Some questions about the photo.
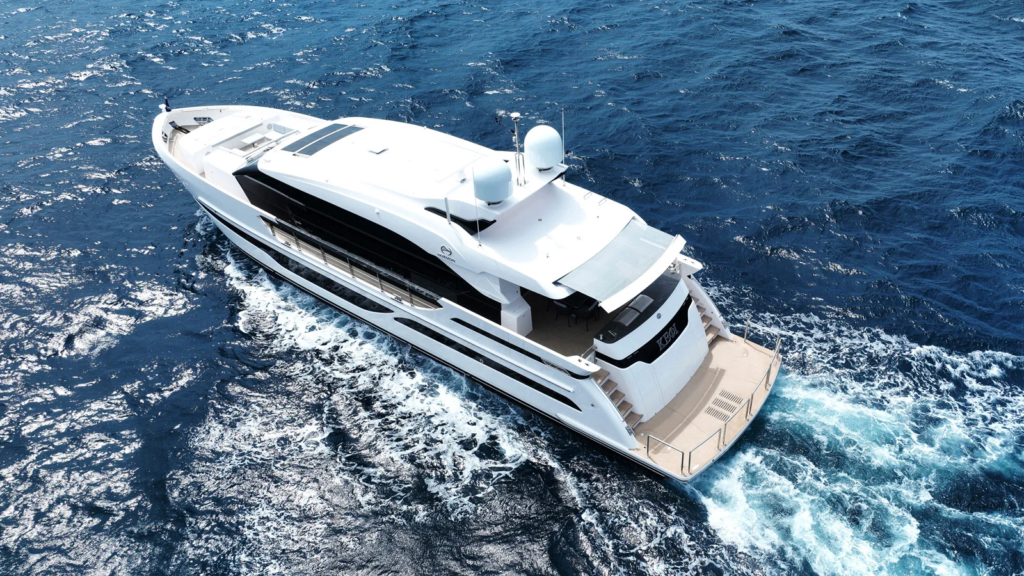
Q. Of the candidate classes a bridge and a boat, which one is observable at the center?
boat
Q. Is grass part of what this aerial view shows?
No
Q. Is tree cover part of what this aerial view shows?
No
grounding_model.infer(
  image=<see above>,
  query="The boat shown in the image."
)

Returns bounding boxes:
[152,93,781,486]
